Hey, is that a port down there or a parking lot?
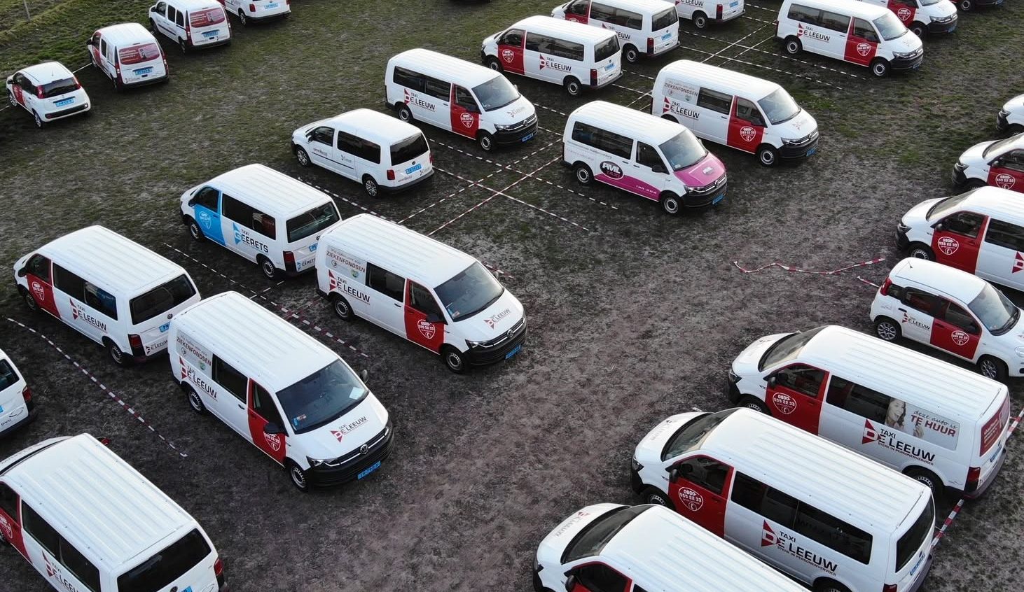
parking lot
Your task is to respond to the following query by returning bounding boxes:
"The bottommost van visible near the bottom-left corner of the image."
[0,425,229,592]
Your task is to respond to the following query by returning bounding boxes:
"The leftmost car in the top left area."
[2,60,90,127]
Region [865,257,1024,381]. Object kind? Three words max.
car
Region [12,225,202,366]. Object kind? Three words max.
van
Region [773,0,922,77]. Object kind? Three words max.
van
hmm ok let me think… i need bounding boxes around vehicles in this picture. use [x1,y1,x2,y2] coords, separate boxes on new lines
[726,324,1012,508]
[865,257,1024,381]
[214,0,290,27]
[0,351,36,442]
[2,60,90,127]
[529,498,815,592]
[557,101,725,218]
[648,60,817,167]
[892,186,1024,292]
[12,225,202,366]
[773,0,922,77]
[383,51,536,154]
[948,127,1024,194]
[627,403,936,592]
[553,0,685,64]
[482,14,623,96]
[83,24,169,93]
[995,84,1024,133]
[168,293,390,495]
[149,0,231,54]
[183,164,343,282]
[664,0,744,29]
[314,215,525,377]
[949,0,1001,13]
[293,108,432,197]
[856,0,957,40]
[0,425,229,592]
